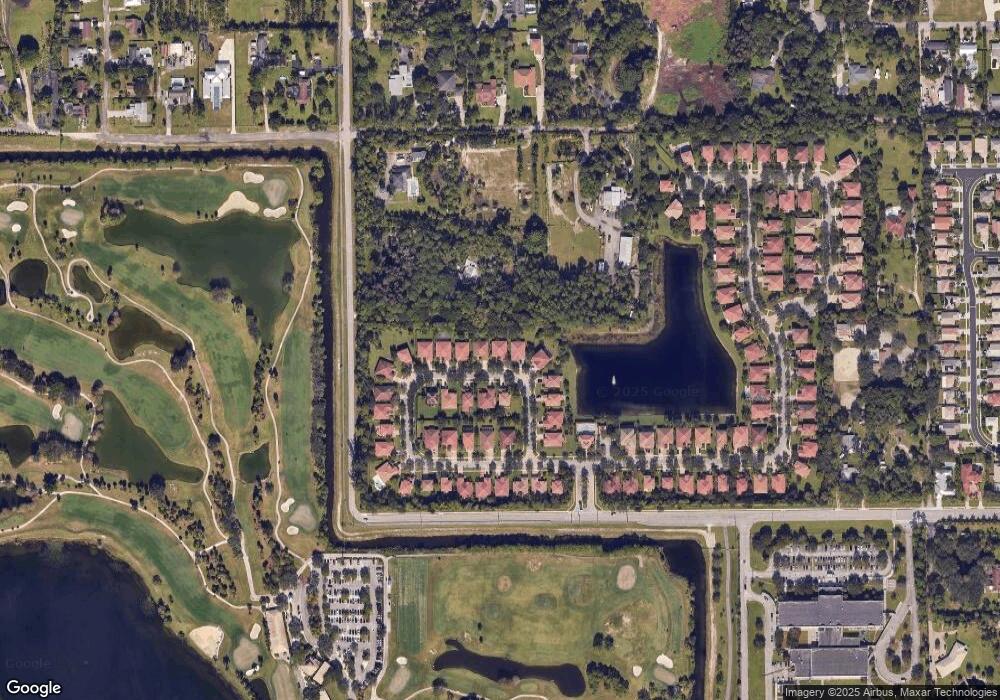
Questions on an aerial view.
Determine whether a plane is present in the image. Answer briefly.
No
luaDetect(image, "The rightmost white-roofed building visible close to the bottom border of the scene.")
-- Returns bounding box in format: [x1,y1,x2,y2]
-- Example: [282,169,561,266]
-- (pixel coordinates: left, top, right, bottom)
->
[937,642,968,678]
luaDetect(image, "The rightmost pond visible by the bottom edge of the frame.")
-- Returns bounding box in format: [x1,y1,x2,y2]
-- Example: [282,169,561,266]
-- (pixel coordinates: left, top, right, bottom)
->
[433,638,585,697]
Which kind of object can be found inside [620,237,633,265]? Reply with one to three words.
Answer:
shed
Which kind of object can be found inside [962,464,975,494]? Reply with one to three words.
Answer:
house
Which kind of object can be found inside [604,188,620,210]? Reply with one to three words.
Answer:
building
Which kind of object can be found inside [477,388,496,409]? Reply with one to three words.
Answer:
house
